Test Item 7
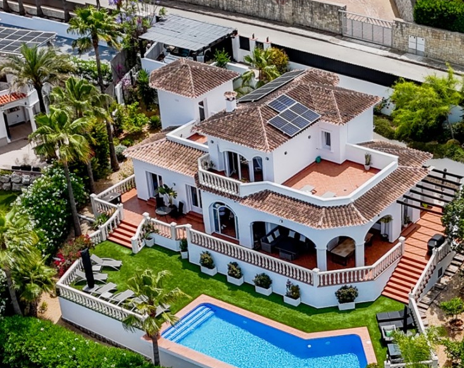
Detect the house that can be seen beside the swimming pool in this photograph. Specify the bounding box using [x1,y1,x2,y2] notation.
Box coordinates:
[123,65,462,272]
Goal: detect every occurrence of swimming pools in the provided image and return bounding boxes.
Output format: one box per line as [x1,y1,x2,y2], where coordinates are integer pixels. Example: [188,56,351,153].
[141,293,380,368]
